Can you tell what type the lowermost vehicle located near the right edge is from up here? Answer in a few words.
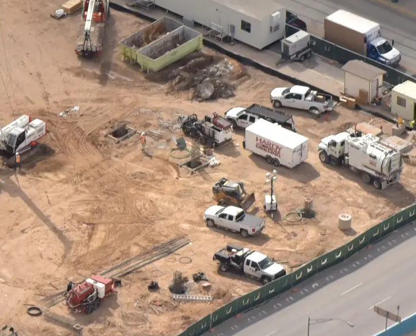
truck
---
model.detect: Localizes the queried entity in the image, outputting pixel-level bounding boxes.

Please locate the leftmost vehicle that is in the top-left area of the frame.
[76,0,108,48]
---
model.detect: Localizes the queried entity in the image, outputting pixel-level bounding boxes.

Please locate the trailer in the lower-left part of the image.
[67,269,120,307]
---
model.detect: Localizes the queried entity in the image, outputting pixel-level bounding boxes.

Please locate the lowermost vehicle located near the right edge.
[314,132,408,190]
